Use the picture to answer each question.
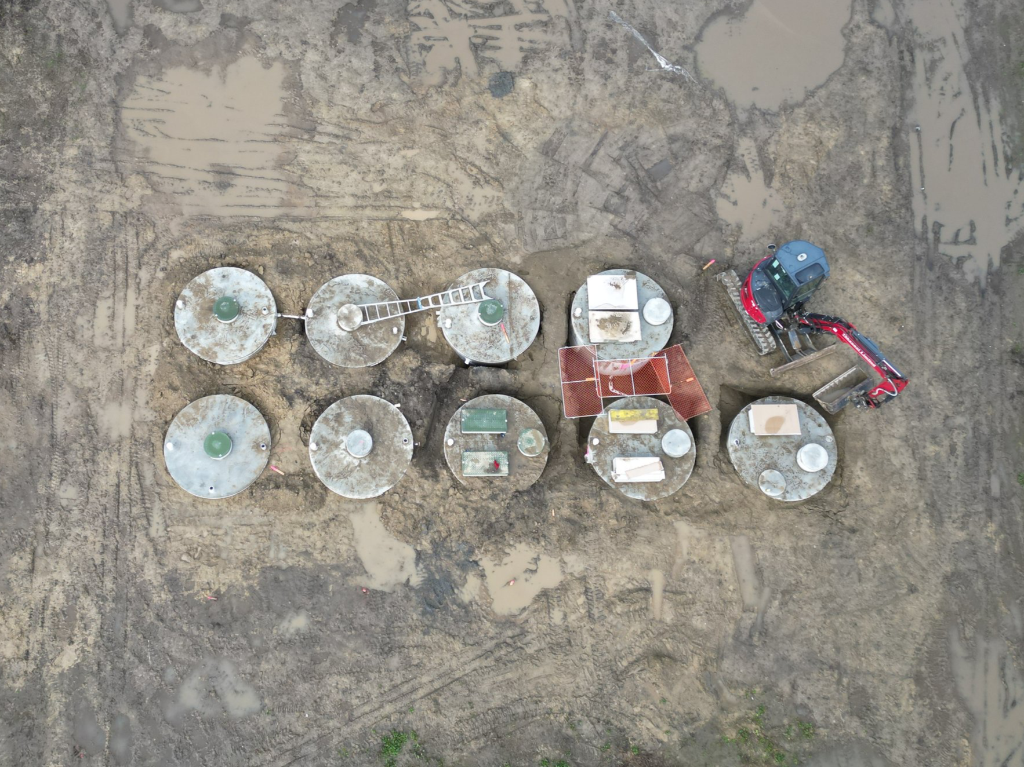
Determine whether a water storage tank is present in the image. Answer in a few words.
Yes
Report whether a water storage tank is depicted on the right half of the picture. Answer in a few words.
Yes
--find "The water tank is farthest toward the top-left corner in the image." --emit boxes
[174,268,282,365]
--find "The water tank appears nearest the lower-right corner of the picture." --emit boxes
[718,395,837,504]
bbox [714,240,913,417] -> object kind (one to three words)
work vehicle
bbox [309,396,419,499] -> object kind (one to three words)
water tank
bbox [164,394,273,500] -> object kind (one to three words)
water tank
